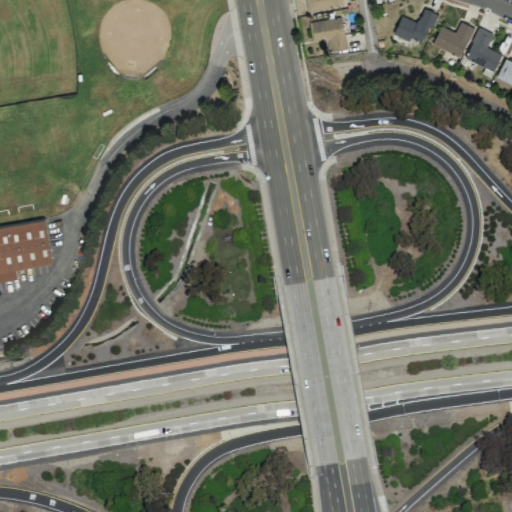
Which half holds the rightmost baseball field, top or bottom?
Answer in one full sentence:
The rightmost baseball field sits in the top half of the picture.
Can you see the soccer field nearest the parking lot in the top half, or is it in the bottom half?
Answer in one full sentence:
The soccer field nearest the parking lot sits in the top half of the picture.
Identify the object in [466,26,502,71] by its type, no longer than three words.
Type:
house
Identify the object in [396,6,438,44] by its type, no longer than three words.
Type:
house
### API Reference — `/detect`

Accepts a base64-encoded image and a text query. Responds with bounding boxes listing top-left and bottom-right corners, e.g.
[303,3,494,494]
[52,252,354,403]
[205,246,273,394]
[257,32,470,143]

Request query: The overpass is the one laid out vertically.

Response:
[276,276,377,468]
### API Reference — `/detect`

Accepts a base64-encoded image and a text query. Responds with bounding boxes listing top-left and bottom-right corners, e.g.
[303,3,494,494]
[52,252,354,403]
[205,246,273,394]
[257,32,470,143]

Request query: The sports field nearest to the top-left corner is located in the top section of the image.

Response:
[0,0,76,104]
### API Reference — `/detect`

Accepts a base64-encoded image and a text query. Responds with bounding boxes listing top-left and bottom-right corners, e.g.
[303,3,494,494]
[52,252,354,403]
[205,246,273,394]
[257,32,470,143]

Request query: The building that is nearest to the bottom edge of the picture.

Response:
[0,220,52,282]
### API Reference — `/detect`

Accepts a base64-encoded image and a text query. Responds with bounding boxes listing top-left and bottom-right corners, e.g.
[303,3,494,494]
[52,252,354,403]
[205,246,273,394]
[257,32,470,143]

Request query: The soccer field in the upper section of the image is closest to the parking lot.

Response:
[0,92,100,223]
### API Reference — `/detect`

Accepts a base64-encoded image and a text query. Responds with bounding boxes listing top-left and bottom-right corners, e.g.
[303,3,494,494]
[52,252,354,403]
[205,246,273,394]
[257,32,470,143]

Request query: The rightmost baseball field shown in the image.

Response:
[71,0,228,150]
